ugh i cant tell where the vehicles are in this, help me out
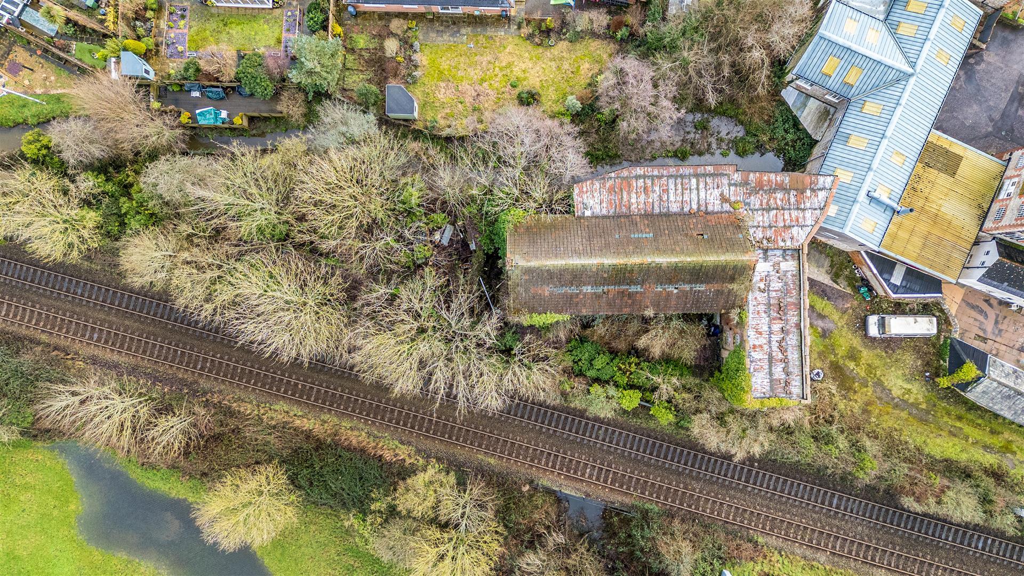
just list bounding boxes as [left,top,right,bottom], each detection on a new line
[861,312,941,339]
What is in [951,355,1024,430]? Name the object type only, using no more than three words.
shed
